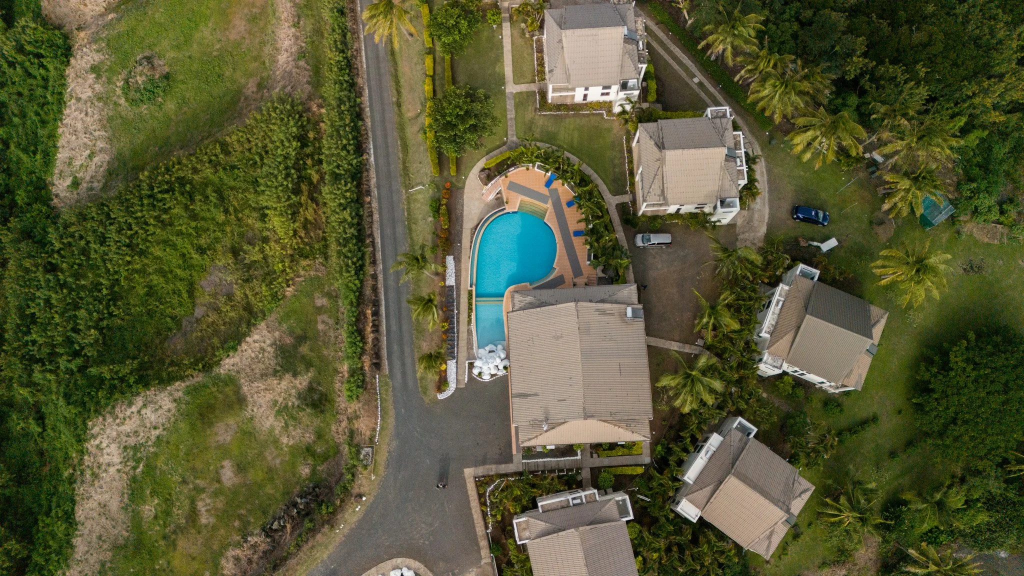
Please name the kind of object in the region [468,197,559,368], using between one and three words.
swimming pool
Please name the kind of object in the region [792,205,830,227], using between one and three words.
car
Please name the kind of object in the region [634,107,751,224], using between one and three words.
house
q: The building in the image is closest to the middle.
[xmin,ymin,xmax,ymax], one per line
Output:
[508,284,654,449]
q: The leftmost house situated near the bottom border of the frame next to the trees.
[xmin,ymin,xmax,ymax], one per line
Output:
[513,486,643,576]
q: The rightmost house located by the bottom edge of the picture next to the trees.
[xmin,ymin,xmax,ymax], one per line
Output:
[671,417,815,559]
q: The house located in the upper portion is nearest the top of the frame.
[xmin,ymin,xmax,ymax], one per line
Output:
[544,0,648,108]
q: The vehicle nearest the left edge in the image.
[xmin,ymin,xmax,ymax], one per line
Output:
[635,231,672,248]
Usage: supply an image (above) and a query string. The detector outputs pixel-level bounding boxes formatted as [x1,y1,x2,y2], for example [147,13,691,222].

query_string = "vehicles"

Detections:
[635,231,672,248]
[792,205,830,227]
